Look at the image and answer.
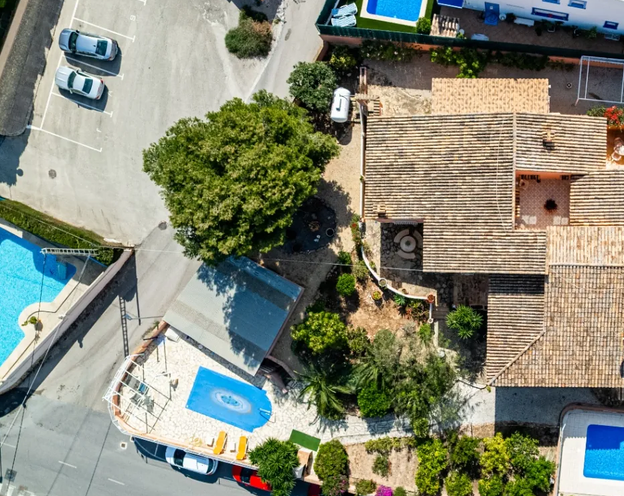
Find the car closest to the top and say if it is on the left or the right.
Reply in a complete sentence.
The car closest to the top is on the left side of the image.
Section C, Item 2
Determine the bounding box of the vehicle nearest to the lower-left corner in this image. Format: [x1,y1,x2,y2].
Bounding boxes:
[164,447,221,478]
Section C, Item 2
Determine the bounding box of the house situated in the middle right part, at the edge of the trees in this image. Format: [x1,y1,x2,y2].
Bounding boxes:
[353,78,624,403]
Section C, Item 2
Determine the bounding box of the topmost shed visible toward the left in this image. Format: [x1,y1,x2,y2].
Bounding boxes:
[163,259,315,376]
